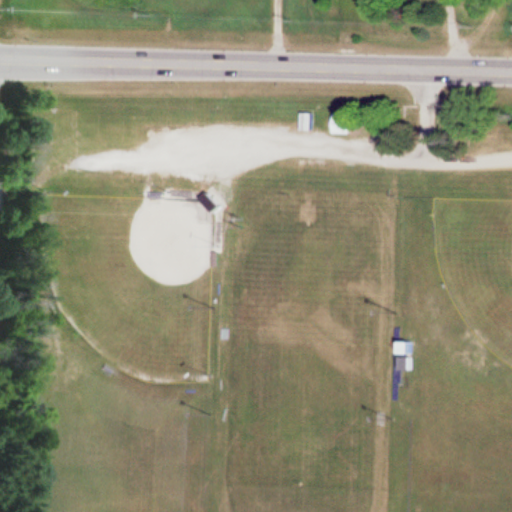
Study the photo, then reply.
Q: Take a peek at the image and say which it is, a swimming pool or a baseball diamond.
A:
baseball diamond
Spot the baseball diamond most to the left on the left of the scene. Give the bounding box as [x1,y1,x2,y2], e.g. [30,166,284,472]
[47,190,216,384]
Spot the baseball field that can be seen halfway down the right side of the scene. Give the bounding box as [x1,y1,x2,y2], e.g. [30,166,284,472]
[433,200,512,366]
